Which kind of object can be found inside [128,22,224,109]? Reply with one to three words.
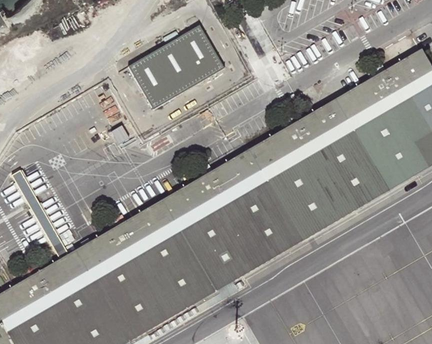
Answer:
building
